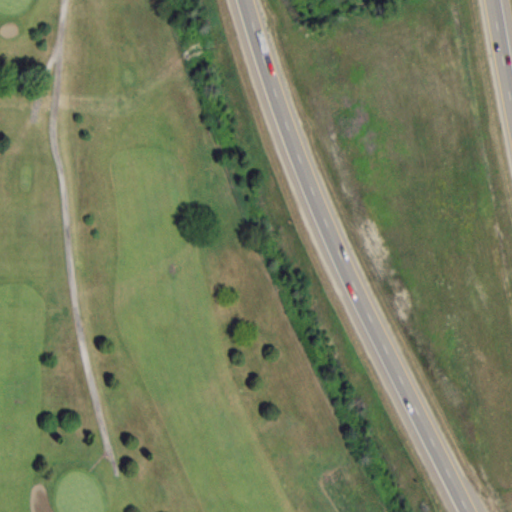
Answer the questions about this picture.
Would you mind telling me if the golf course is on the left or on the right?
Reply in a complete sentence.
It is on the left.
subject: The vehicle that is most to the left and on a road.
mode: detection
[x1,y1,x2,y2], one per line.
[258,30,276,76]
